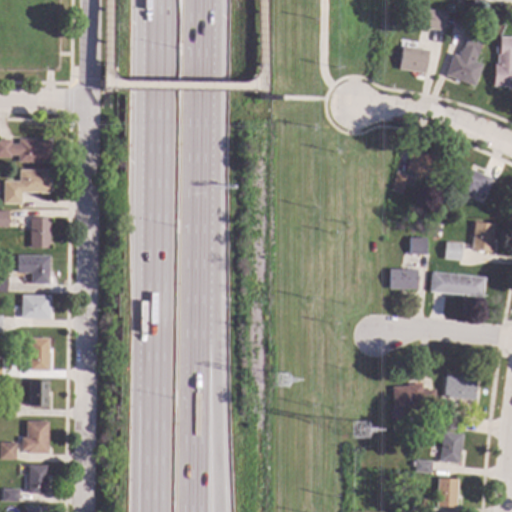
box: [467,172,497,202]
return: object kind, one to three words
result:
house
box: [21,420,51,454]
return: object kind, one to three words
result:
house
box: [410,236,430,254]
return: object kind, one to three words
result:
building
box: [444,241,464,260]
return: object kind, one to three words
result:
building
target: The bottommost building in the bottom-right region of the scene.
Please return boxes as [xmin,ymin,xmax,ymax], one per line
[438,478,460,507]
